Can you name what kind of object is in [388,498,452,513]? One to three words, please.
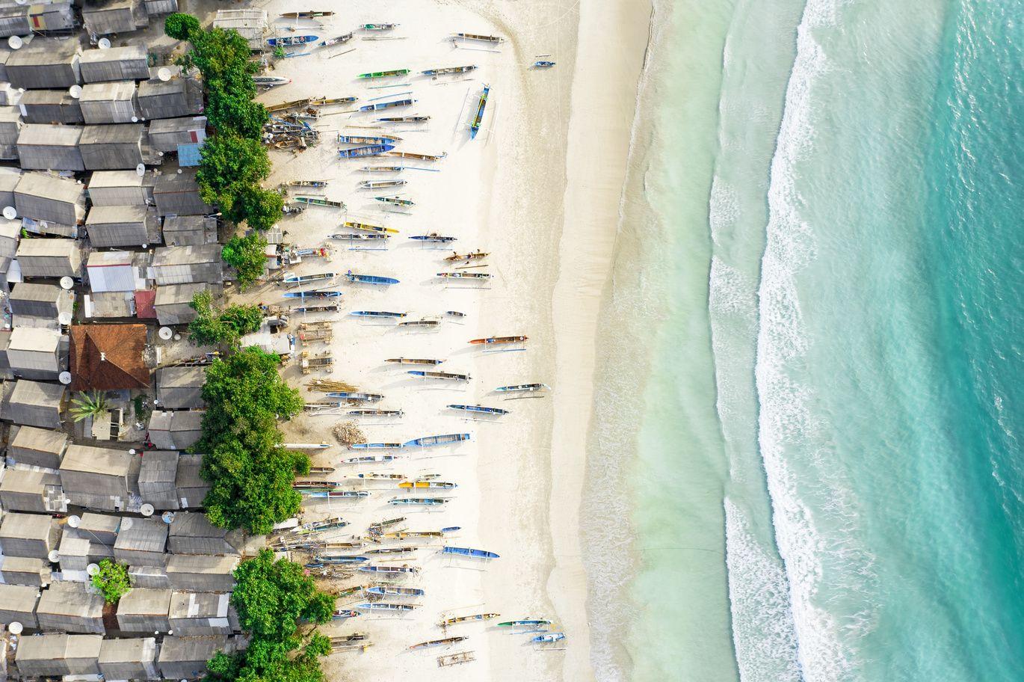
boat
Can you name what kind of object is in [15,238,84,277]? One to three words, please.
house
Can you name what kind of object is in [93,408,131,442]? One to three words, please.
building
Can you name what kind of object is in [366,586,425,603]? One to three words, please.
boat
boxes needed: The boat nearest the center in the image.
[470,336,534,352]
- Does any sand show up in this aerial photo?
Yes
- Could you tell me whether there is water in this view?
Yes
